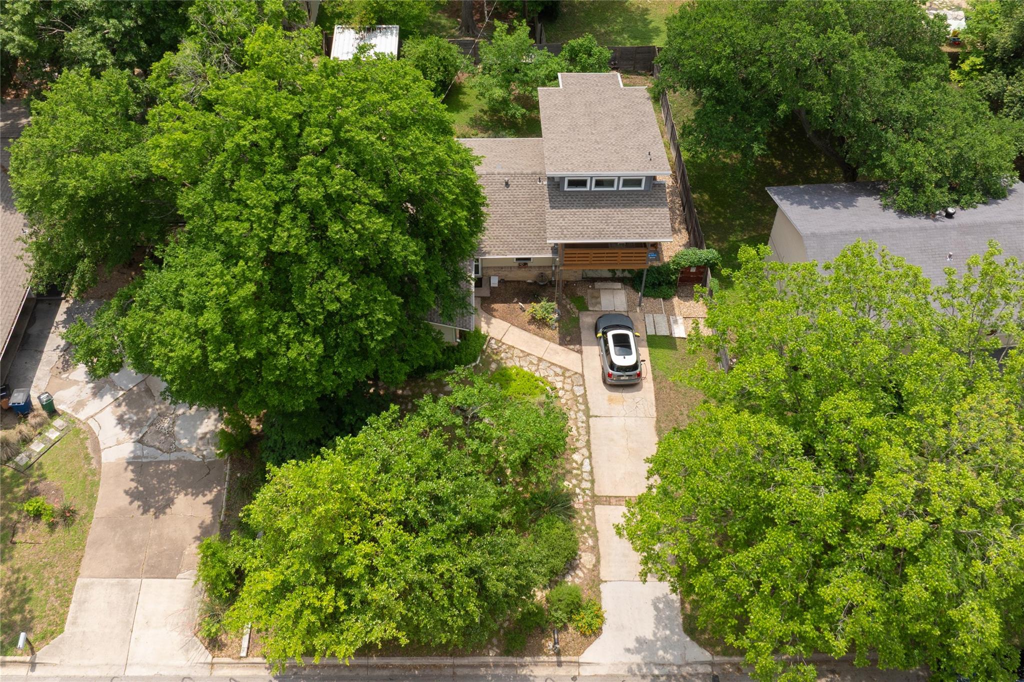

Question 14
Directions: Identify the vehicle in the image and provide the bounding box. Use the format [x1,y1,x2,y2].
[593,313,646,389]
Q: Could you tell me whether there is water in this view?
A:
No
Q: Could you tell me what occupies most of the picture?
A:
trees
